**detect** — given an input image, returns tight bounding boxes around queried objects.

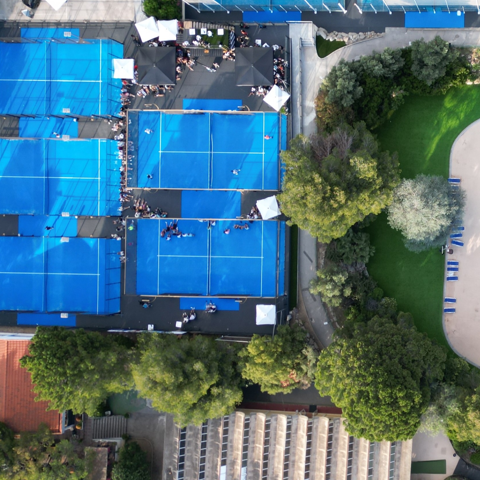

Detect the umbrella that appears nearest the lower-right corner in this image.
[257,305,275,324]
